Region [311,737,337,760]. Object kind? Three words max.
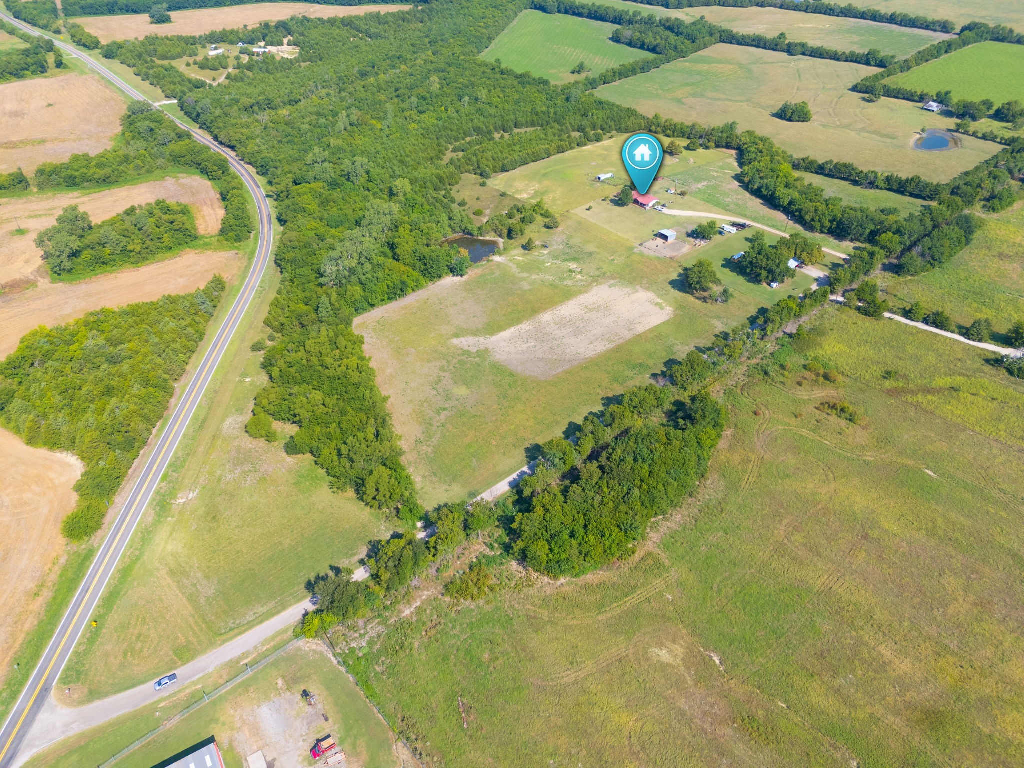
truck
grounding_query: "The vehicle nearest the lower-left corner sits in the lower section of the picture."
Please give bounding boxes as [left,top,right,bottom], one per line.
[155,671,178,688]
